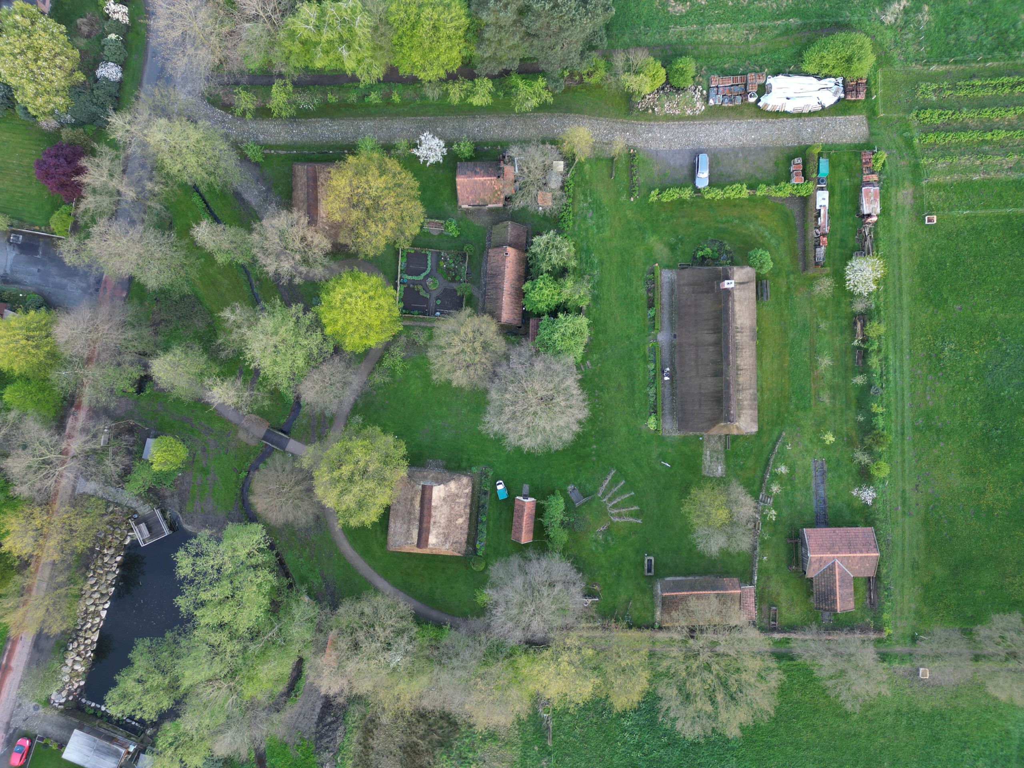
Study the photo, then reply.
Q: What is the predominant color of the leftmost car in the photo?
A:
red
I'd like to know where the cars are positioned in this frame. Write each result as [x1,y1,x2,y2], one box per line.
[693,152,711,190]
[8,732,35,768]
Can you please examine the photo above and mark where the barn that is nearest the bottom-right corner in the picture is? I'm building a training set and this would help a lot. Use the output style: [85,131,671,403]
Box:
[795,524,882,615]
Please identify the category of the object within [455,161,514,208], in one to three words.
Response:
house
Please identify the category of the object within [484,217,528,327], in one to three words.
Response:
barn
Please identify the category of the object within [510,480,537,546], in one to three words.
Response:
shed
